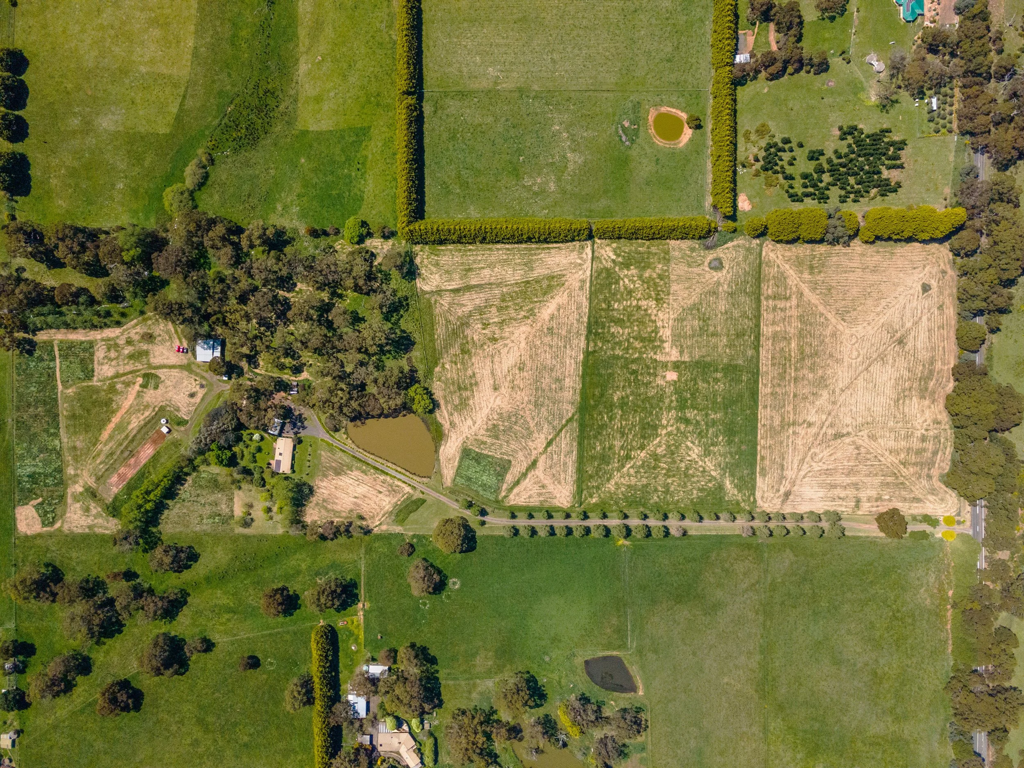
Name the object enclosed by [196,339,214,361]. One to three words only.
shed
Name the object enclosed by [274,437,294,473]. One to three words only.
house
